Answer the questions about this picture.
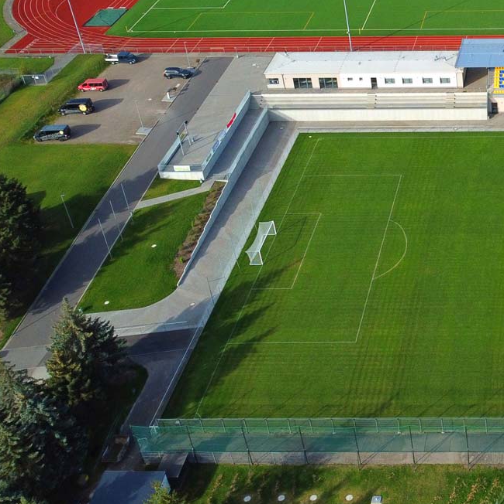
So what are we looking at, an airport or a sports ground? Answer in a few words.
sports ground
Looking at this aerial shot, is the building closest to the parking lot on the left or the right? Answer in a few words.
right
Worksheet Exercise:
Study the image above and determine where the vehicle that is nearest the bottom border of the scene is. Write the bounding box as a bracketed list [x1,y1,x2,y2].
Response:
[34,125,68,140]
